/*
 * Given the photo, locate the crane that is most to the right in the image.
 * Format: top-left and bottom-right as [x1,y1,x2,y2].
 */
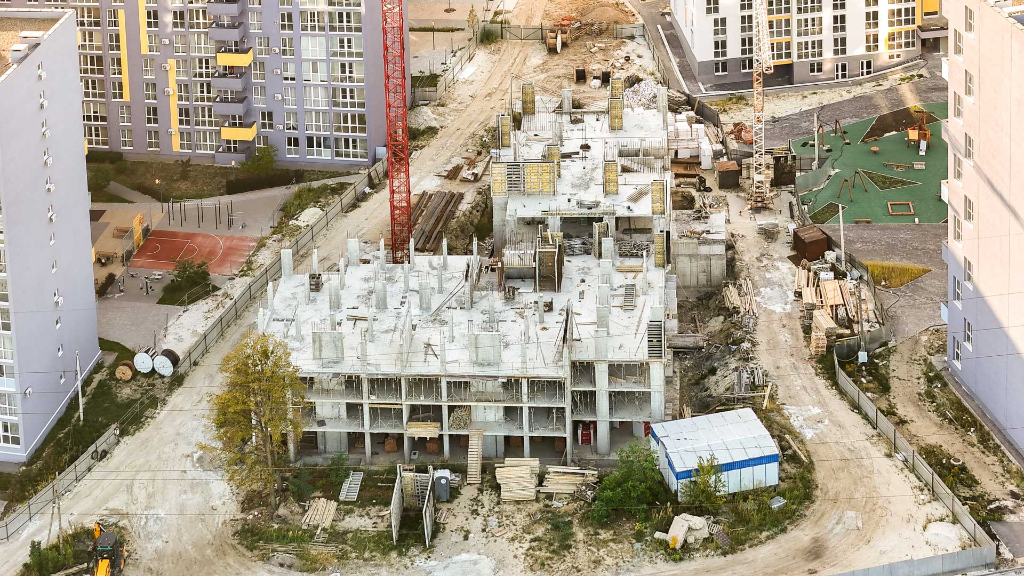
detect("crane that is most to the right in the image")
[733,0,790,217]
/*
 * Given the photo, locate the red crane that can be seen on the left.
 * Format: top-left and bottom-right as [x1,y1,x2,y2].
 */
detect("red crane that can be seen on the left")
[379,0,415,263]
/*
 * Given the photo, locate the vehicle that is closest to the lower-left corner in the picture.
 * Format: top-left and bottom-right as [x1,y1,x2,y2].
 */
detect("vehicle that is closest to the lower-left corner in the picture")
[92,527,125,576]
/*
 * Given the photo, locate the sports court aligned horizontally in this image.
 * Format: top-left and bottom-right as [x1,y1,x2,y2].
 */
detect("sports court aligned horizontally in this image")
[128,230,262,275]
